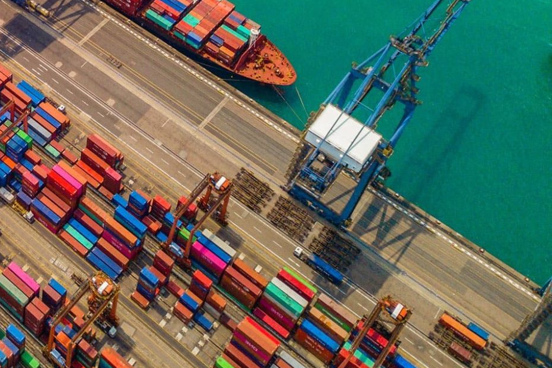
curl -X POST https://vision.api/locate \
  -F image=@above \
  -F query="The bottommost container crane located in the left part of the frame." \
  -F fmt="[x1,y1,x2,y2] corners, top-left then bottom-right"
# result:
[42,266,127,368]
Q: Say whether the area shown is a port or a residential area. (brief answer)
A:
port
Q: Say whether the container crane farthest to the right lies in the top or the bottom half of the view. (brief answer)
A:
bottom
